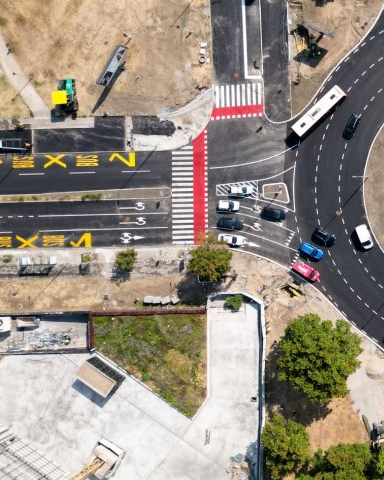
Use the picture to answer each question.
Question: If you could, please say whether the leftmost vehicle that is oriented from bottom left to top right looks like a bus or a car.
bus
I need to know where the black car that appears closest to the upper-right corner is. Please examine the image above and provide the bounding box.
[345,114,360,139]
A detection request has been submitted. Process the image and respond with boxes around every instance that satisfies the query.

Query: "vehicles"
[345,114,360,139]
[292,85,349,138]
[220,234,246,246]
[311,227,335,246]
[219,218,244,229]
[0,140,26,150]
[230,185,255,195]
[218,201,241,212]
[293,262,319,281]
[356,224,373,250]
[299,241,323,260]
[262,207,288,221]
